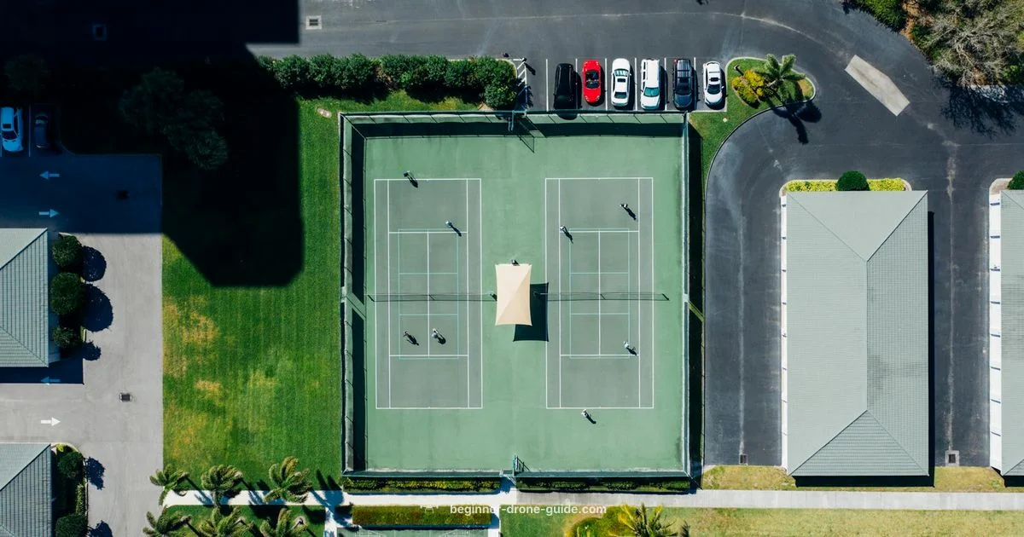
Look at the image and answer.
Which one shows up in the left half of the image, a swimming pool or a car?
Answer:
car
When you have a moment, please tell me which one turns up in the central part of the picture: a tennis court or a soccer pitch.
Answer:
tennis court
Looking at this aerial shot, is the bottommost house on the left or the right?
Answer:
left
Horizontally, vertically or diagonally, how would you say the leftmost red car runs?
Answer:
vertically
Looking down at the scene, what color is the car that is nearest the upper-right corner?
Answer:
white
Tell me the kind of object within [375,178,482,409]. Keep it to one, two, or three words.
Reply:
tennis court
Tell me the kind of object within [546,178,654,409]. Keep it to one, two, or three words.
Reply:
tennis court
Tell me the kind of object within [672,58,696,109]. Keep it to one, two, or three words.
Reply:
car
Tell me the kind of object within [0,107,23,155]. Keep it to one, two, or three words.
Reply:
car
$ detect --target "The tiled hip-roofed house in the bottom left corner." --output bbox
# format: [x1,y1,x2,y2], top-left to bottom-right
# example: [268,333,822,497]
[0,441,64,537]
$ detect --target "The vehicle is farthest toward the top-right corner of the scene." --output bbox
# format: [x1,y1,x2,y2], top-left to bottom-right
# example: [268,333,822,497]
[703,60,726,106]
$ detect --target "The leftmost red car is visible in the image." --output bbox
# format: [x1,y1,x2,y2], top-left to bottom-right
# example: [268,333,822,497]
[582,58,604,103]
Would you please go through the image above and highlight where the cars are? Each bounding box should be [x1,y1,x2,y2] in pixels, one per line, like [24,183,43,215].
[552,60,575,110]
[640,58,662,109]
[703,60,726,106]
[582,58,604,103]
[672,58,696,109]
[611,58,633,107]
[0,107,23,155]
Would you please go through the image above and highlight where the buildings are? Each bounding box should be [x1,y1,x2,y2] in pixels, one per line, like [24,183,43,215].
[779,190,929,477]
[0,227,61,367]
[988,190,1024,477]
[0,441,64,537]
